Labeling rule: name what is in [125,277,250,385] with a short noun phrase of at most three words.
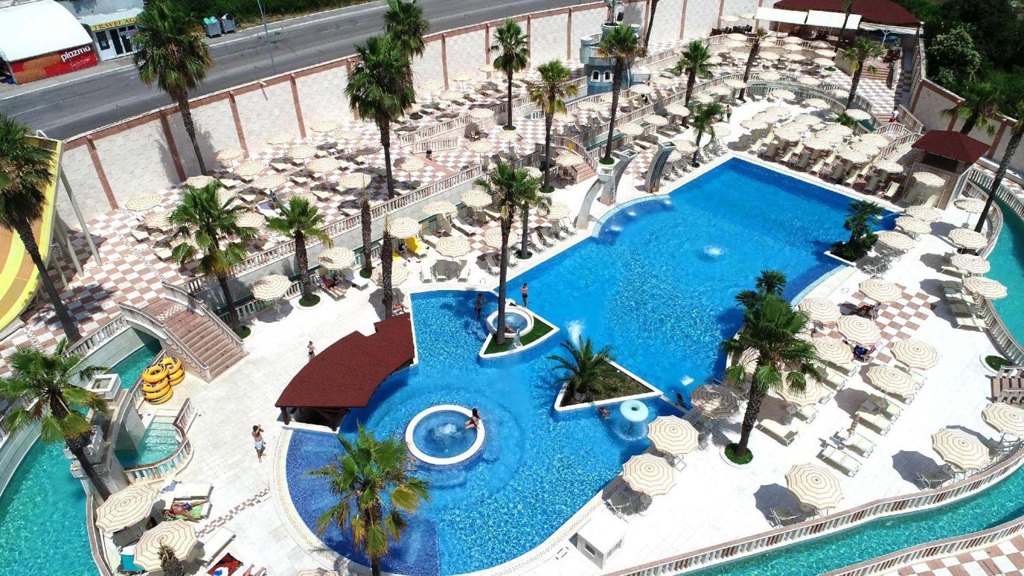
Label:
bridge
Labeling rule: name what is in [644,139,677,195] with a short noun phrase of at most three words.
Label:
fountain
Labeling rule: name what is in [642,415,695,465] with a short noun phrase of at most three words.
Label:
umbrella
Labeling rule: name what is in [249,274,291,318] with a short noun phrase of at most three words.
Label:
umbrella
